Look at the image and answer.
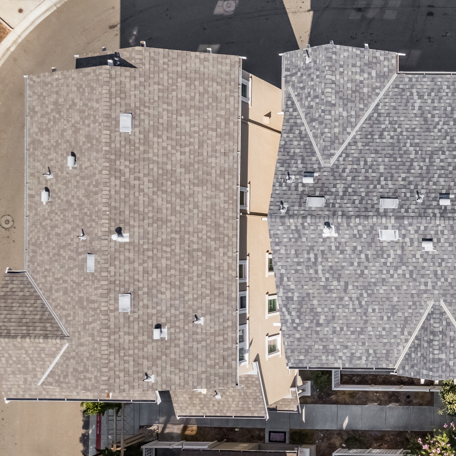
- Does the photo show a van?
No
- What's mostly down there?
buildings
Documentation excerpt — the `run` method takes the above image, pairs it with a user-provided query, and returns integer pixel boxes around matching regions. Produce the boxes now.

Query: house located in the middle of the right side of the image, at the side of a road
[266,37,456,387]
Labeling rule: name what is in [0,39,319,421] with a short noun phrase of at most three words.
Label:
house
